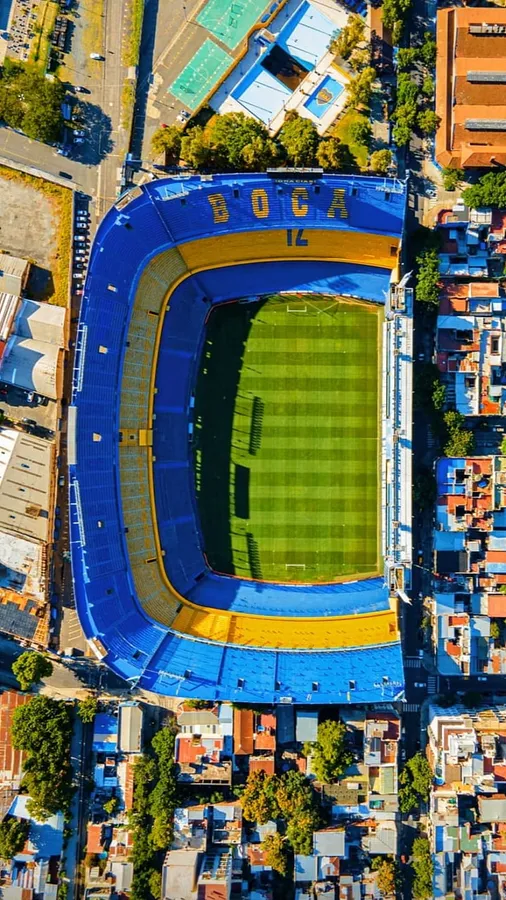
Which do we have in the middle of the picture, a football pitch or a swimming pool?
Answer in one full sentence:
The one visible in the middle of the picture is a football pitch.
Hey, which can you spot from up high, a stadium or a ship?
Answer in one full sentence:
It is a stadium that can be seen here.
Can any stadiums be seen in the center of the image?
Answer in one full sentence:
Yes, in the center of the image there is a stadium.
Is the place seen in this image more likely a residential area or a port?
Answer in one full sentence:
This image shows a residential area.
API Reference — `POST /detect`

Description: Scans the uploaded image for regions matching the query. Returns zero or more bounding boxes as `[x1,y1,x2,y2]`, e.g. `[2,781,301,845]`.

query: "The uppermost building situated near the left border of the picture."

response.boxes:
[0,254,35,300]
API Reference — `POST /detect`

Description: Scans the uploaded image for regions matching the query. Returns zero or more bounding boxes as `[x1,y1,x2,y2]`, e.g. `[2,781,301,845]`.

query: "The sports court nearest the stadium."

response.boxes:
[168,38,234,110]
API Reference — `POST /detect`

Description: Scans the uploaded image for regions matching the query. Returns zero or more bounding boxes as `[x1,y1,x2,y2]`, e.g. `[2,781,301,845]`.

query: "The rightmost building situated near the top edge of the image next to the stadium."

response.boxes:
[429,8,506,178]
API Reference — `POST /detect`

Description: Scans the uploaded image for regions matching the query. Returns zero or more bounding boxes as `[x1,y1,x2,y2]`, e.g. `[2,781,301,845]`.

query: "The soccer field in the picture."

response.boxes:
[191,294,385,584]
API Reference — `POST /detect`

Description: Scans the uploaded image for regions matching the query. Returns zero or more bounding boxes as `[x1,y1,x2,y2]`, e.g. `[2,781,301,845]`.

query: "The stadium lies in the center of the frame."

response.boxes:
[66,165,416,705]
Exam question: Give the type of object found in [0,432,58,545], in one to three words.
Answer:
building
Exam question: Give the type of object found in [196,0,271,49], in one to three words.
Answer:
sports court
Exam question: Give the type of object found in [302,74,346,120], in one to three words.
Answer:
swimming pool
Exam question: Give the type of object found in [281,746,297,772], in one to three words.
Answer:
house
